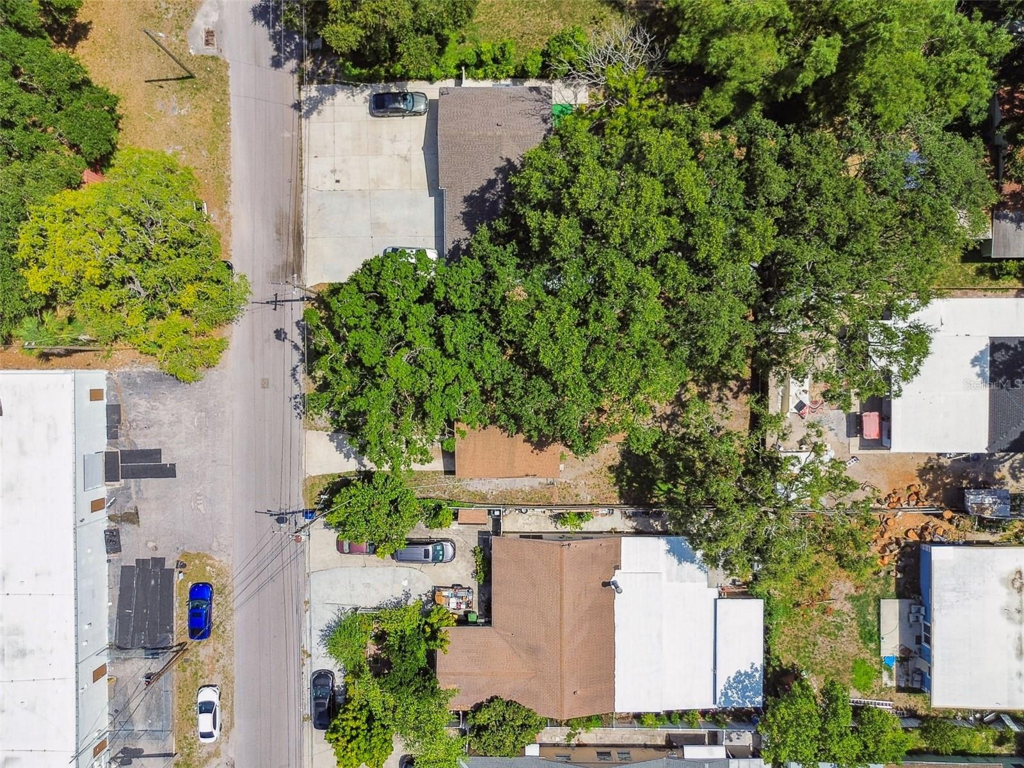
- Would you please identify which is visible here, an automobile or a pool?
automobile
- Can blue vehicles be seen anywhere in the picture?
Yes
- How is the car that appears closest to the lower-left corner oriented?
up and down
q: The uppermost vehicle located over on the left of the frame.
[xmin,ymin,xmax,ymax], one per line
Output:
[369,88,428,119]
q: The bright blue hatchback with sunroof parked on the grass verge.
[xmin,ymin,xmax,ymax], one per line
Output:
[185,582,216,640]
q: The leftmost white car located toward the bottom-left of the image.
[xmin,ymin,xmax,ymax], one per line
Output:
[193,683,225,744]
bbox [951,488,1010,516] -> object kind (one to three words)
shed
